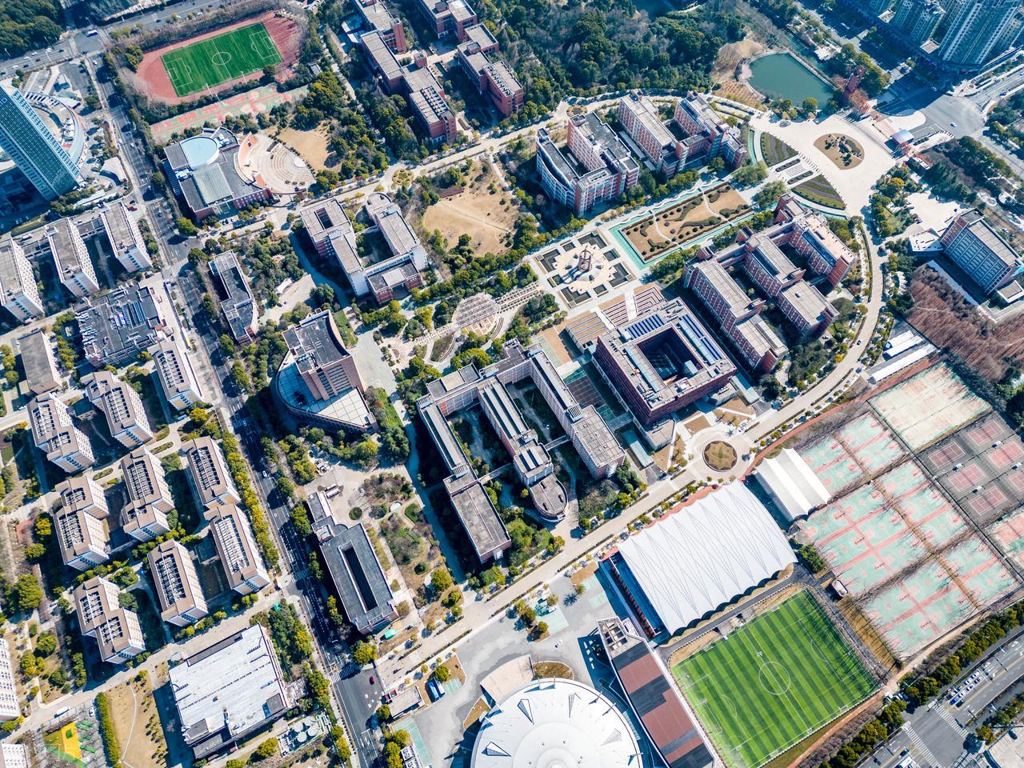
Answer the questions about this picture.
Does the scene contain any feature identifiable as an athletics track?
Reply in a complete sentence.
Yes, you can see an athletics track in this photo.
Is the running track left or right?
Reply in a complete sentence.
The running track appears in the left half of the scene.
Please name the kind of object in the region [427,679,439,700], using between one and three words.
vehicle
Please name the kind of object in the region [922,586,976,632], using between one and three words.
basketball court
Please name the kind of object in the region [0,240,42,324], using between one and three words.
house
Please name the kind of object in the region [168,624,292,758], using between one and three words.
building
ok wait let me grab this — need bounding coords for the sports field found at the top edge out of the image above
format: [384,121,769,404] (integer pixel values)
[159,21,284,97]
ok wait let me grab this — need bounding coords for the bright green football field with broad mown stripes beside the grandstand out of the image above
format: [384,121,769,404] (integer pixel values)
[670,584,881,768]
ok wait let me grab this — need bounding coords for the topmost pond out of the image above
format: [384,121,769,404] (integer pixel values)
[749,51,834,109]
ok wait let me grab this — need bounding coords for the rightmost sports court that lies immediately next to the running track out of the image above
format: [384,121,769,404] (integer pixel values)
[150,83,308,140]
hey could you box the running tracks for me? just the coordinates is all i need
[132,15,308,105]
